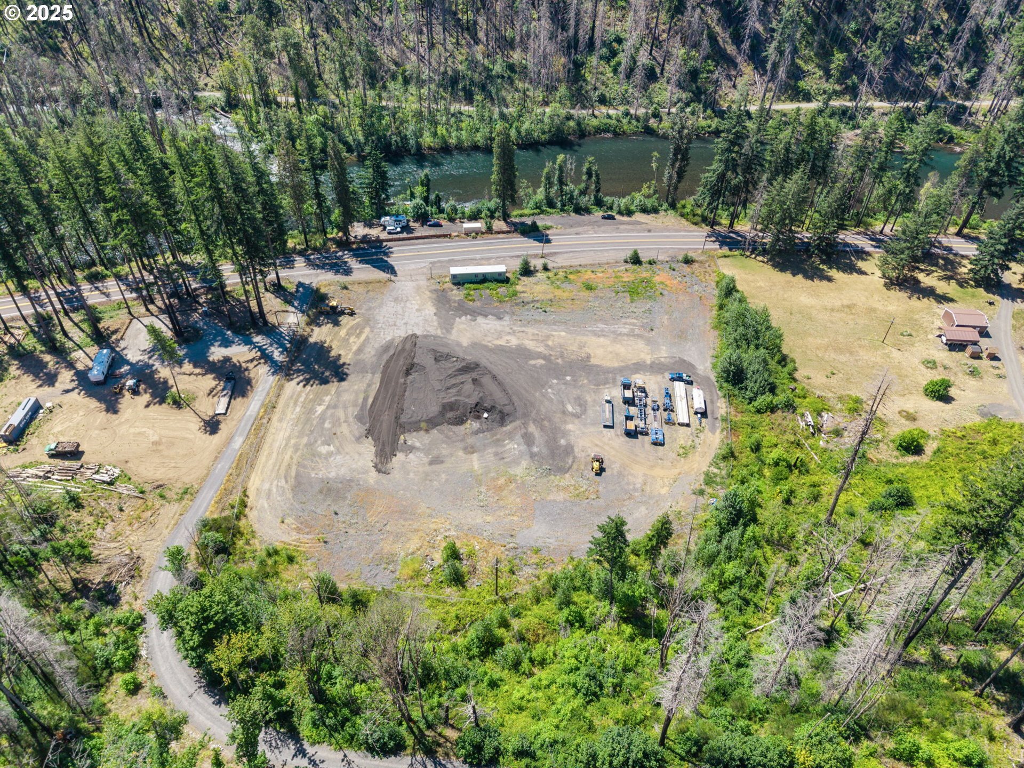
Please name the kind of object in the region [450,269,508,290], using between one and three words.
house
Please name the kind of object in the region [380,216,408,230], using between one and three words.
camper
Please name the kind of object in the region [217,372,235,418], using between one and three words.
vehicle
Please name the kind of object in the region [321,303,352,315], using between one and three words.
vehicle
